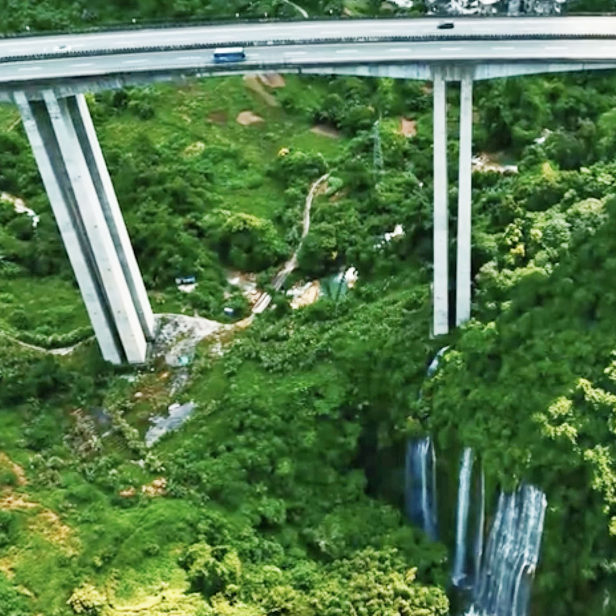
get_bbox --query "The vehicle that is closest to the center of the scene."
[219,304,238,316]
